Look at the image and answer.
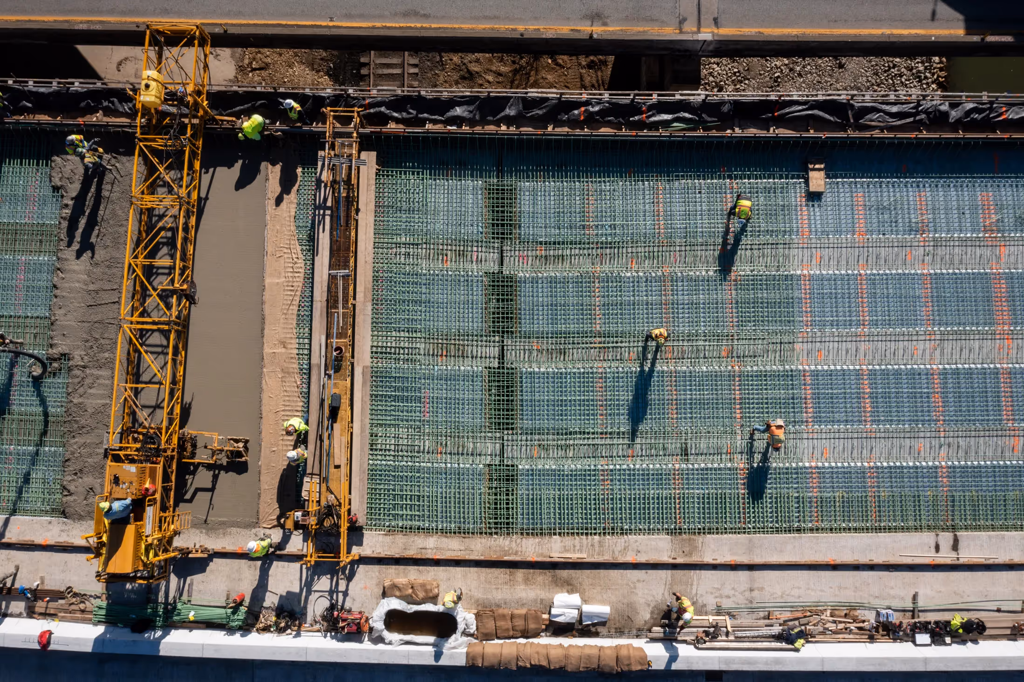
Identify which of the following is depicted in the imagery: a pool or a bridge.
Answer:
bridge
